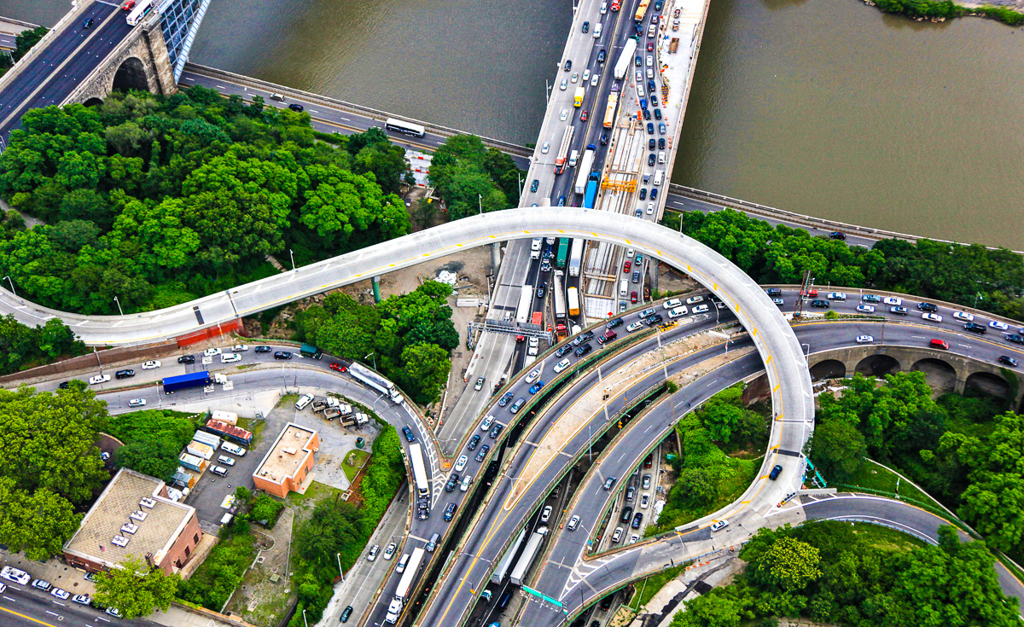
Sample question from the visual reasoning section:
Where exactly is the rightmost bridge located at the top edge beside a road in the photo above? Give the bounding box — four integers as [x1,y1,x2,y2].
[516,0,716,226]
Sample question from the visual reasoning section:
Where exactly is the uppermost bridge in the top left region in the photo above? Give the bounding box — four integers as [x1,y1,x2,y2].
[0,0,228,201]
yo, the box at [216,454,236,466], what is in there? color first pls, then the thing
white vehicle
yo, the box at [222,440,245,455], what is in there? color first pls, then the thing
white vehicle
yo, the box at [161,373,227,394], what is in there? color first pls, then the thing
blue truck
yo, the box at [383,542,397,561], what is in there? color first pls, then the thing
white car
